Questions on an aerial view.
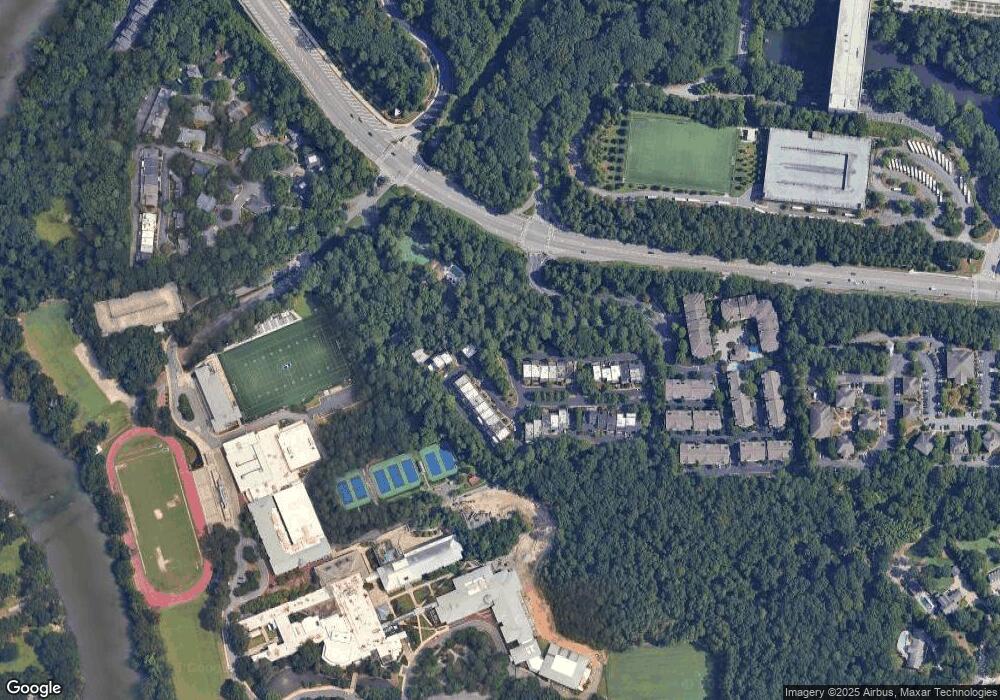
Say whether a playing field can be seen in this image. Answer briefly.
Yes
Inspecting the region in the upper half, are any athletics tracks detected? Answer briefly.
No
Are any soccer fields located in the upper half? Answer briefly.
Yes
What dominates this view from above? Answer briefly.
trees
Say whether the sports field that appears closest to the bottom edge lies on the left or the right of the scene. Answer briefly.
right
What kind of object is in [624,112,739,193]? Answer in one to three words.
soccer field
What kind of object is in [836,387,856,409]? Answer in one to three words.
building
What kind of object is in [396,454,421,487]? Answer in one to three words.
tennis court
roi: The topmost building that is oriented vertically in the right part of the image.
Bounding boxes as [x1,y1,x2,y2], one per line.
[829,0,872,110]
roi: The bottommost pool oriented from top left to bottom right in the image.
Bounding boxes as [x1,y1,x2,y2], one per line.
[918,593,935,614]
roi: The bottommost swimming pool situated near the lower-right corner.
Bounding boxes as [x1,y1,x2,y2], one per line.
[897,631,911,660]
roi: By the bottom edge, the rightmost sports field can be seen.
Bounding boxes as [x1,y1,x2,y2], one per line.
[604,642,711,700]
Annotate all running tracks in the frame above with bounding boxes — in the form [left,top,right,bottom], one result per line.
[107,422,212,603]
